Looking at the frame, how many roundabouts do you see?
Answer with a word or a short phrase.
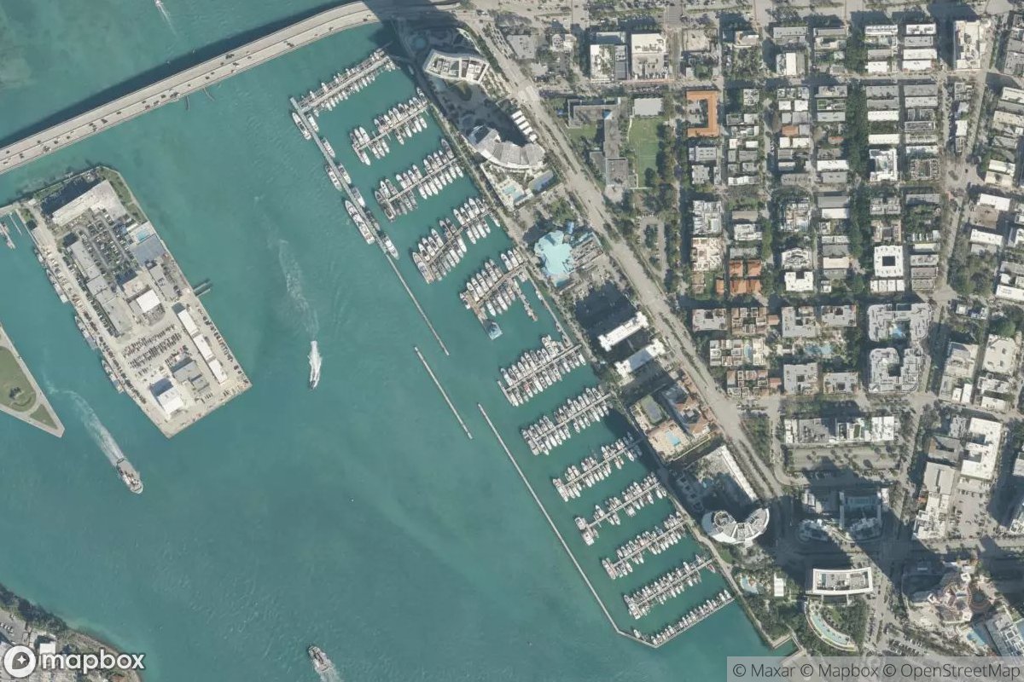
0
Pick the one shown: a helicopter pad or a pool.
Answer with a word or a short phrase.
pool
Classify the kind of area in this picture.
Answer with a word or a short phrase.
port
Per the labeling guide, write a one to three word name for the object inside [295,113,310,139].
boat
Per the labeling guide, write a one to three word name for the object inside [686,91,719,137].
building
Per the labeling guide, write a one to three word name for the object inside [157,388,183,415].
hangar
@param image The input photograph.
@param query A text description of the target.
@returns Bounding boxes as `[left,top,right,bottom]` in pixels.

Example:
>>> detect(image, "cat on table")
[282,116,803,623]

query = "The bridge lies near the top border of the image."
[0,0,381,170]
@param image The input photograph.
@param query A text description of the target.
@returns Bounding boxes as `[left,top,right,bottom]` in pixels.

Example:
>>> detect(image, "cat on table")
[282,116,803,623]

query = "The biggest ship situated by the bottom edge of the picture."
[309,645,329,672]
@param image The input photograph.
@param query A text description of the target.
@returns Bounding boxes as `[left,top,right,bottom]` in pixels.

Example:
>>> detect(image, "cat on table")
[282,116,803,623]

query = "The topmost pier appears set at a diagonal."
[301,51,391,111]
